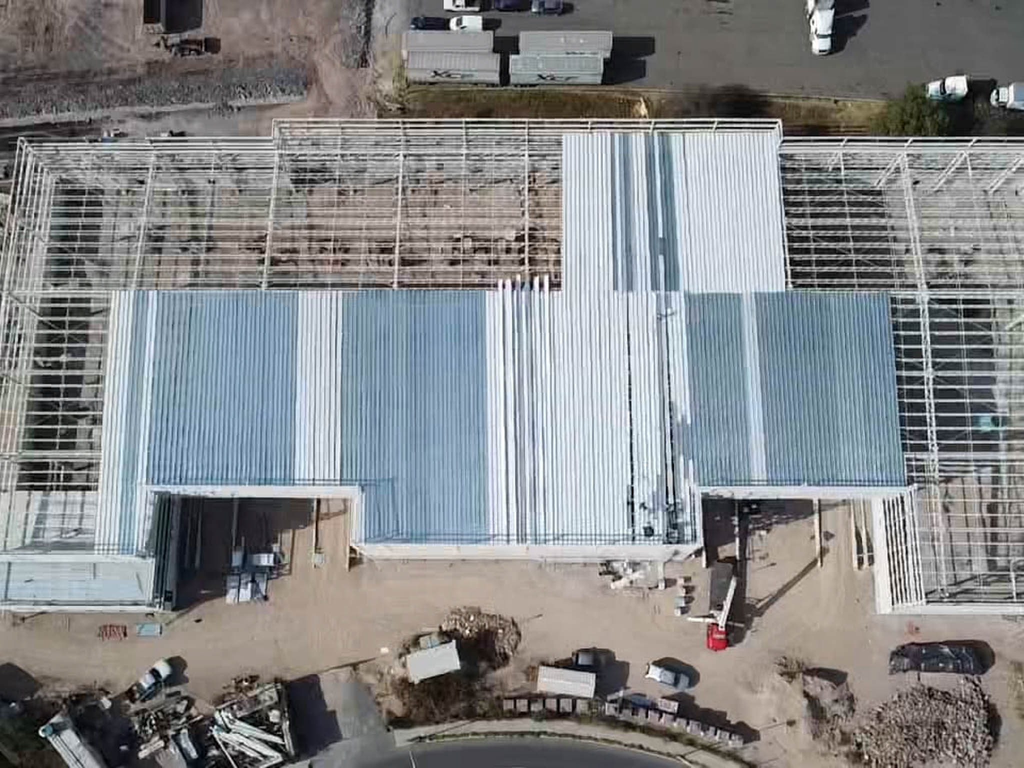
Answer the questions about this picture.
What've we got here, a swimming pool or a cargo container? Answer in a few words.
cargo container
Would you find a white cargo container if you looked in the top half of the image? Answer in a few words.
No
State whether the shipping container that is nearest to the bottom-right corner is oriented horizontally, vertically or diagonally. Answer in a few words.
horizontally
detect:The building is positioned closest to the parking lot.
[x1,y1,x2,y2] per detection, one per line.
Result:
[0,118,1024,615]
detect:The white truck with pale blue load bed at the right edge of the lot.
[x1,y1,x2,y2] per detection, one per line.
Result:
[992,83,1024,108]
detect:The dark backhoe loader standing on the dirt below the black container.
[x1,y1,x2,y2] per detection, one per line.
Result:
[155,36,207,60]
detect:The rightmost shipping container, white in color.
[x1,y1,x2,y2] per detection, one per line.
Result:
[538,666,596,698]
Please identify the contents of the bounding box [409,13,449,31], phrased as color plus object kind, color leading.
black vehicle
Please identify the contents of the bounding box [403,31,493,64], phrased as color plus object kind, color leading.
gray trailer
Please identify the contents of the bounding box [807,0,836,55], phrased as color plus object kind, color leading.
white truck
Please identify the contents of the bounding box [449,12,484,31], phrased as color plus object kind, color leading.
white vehicle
